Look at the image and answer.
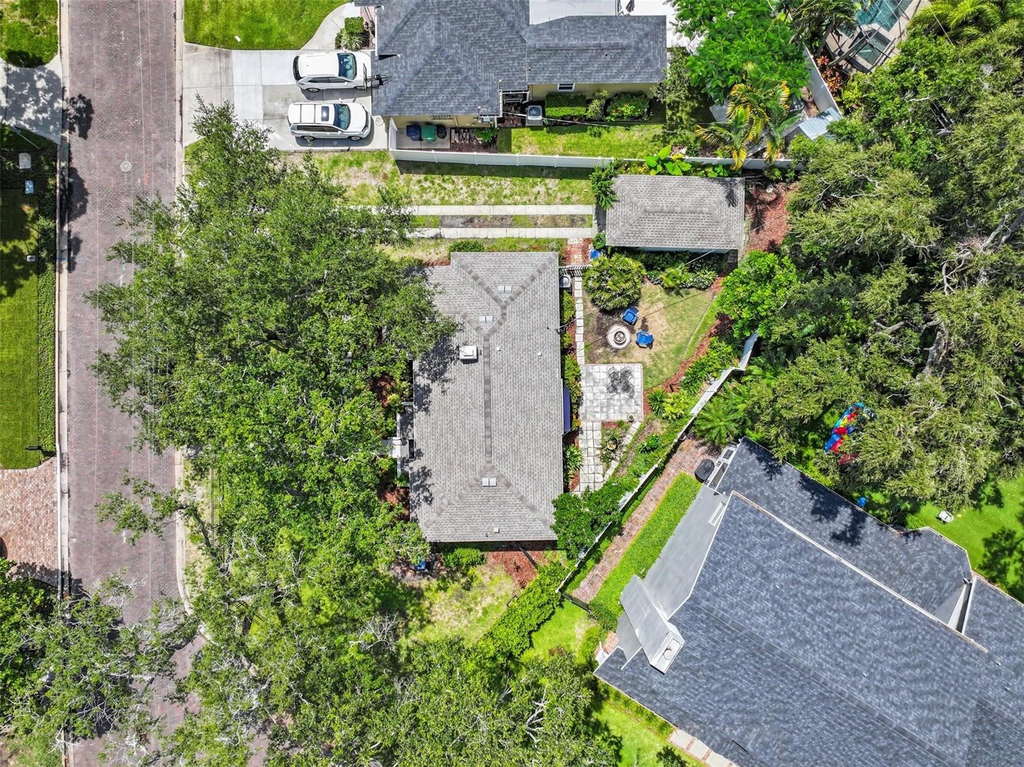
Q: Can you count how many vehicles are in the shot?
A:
2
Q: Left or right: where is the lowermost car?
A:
left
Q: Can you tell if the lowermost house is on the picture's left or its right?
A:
right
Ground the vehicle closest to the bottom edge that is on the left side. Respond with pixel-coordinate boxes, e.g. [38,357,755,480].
[286,99,371,141]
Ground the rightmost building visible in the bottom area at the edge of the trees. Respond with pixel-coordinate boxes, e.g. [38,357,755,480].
[593,438,1024,767]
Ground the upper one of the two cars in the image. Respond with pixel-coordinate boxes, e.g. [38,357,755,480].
[293,50,371,91]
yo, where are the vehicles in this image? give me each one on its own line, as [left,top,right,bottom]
[286,99,371,141]
[293,50,371,91]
